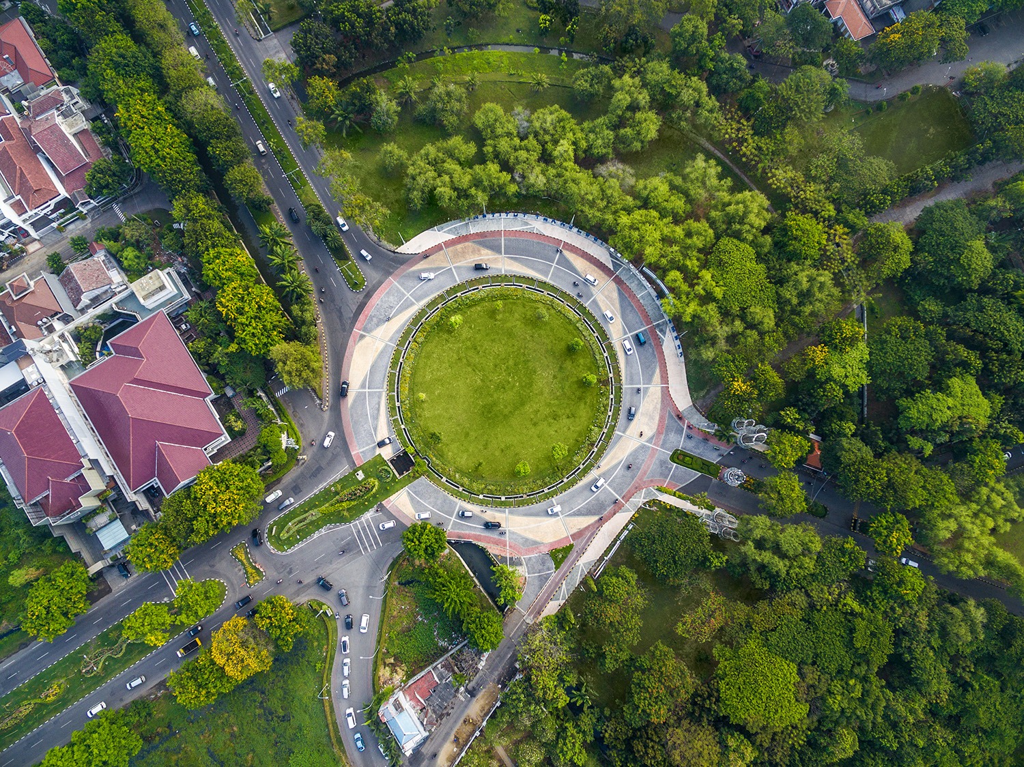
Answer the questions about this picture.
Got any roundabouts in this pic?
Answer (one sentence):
Yes, you can see a roundabout in this photo.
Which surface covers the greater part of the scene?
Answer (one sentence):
The scene is dominated by trees.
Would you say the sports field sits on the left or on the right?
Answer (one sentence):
You can find the sports field on the right side of the picture.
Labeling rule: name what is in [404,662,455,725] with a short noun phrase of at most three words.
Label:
shed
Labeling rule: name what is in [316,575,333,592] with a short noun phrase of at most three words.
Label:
vehicle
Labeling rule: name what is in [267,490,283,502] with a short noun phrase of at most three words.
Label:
vehicle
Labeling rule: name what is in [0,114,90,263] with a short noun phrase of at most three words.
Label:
house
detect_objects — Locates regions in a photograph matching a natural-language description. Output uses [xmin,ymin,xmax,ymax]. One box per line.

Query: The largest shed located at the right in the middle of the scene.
[802,434,822,473]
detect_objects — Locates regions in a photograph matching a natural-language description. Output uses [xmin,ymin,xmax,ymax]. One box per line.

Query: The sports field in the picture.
[856,85,978,174]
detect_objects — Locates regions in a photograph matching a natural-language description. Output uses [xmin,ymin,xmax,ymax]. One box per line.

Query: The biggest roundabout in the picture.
[341,230,671,555]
